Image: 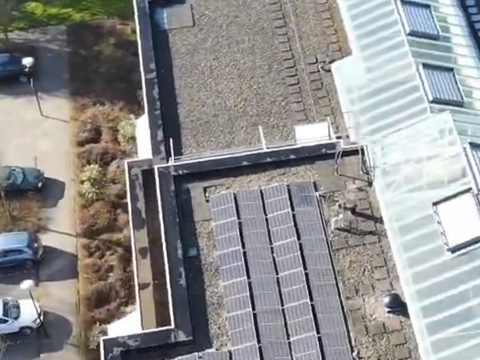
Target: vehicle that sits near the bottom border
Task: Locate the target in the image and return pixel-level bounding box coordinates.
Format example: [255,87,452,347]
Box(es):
[0,304,49,345]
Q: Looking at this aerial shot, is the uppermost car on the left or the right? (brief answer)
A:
left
